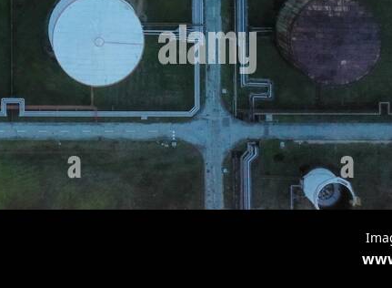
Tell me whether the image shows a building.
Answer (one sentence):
No, no building is visible in the scene.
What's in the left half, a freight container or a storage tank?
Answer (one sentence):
Visible in the left half is a storage tank.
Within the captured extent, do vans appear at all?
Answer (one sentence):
No, the photo shows no van.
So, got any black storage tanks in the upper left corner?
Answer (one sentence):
No, no black storage tank is visible in the upper left corner.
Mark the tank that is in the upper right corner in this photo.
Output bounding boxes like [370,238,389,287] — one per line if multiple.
[274,0,382,84]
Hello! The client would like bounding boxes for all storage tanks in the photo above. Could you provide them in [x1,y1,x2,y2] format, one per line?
[45,0,145,86]
[299,164,360,219]
[274,0,382,84]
